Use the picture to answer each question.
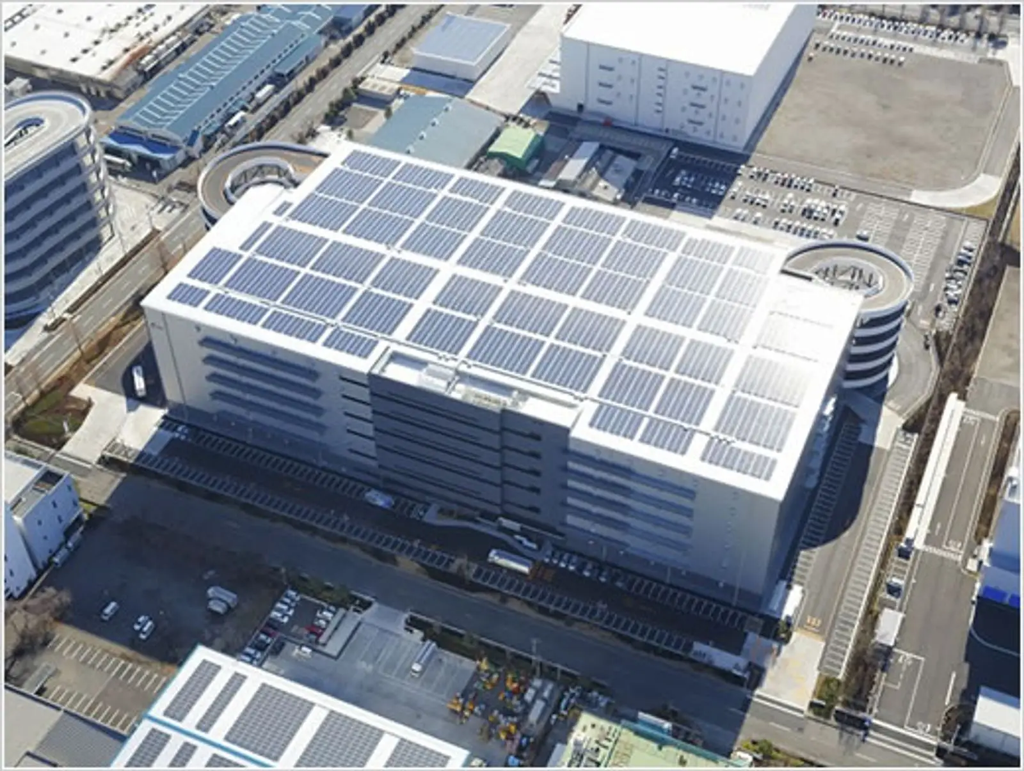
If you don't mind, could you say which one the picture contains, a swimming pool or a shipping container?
shipping container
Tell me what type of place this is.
industrial area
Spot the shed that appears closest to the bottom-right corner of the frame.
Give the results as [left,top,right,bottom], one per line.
[965,686,1024,758]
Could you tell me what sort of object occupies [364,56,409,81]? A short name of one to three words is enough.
shed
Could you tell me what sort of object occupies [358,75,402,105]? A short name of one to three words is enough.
building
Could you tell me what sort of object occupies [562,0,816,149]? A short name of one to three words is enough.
building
